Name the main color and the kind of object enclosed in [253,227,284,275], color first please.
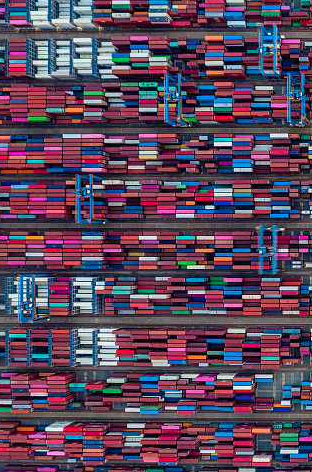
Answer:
blue crane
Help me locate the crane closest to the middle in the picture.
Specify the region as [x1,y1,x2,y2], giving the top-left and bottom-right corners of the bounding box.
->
[69,173,109,222]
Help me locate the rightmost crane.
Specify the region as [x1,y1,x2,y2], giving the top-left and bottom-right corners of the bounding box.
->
[282,73,311,126]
